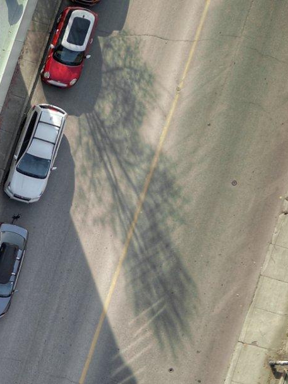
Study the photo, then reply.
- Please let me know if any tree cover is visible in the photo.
No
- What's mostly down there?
paved ground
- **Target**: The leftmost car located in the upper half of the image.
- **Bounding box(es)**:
[0,104,65,203]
